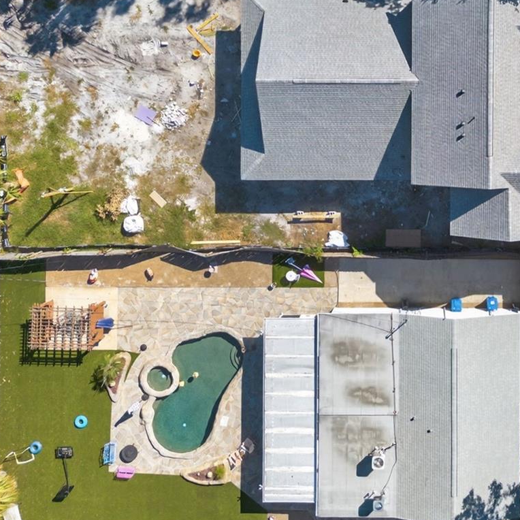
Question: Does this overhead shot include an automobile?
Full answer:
No, the picture doesn't show any automobile.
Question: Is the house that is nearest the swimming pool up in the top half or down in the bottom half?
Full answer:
It is in the bottom half that the house that is nearest the swimming pool appears.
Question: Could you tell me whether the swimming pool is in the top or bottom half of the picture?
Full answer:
The bottom half of the photo is where the swimming pool is.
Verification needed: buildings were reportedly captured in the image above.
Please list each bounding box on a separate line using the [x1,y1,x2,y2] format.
[264,306,520,520]
[239,0,520,241]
